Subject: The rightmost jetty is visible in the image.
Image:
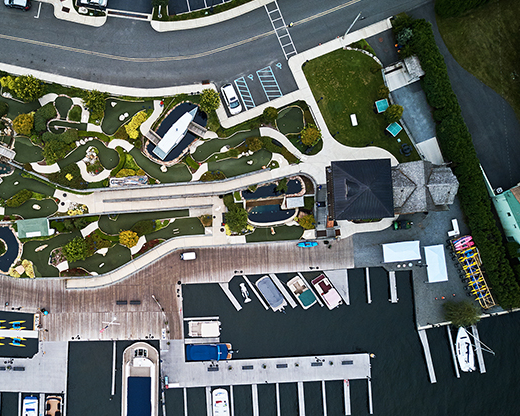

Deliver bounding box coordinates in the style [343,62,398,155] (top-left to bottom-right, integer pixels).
[470,321,486,375]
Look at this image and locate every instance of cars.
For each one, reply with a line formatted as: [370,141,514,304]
[3,0,32,12]
[220,82,241,116]
[80,0,110,9]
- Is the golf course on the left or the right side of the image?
left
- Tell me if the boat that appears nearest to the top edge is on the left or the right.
left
